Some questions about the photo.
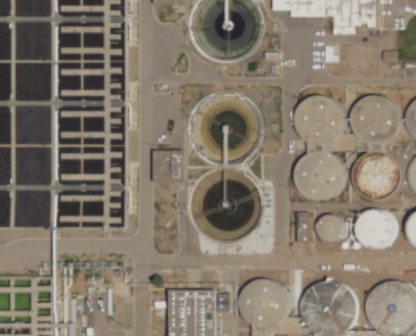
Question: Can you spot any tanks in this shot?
Yes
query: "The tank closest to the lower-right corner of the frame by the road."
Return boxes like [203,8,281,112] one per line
[366,280,416,336]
